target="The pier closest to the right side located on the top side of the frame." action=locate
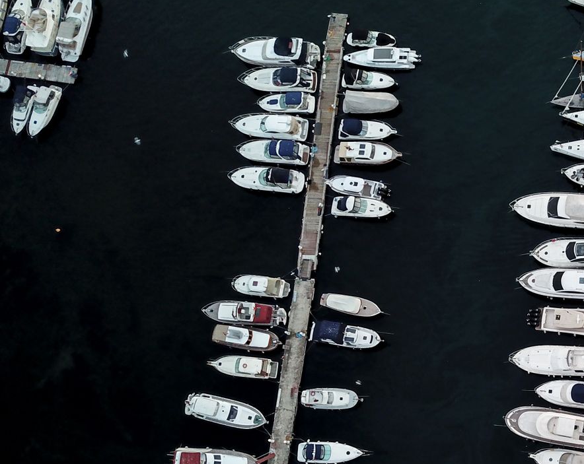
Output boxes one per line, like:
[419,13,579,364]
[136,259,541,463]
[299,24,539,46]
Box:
[297,14,351,282]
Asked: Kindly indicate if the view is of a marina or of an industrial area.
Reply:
marina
